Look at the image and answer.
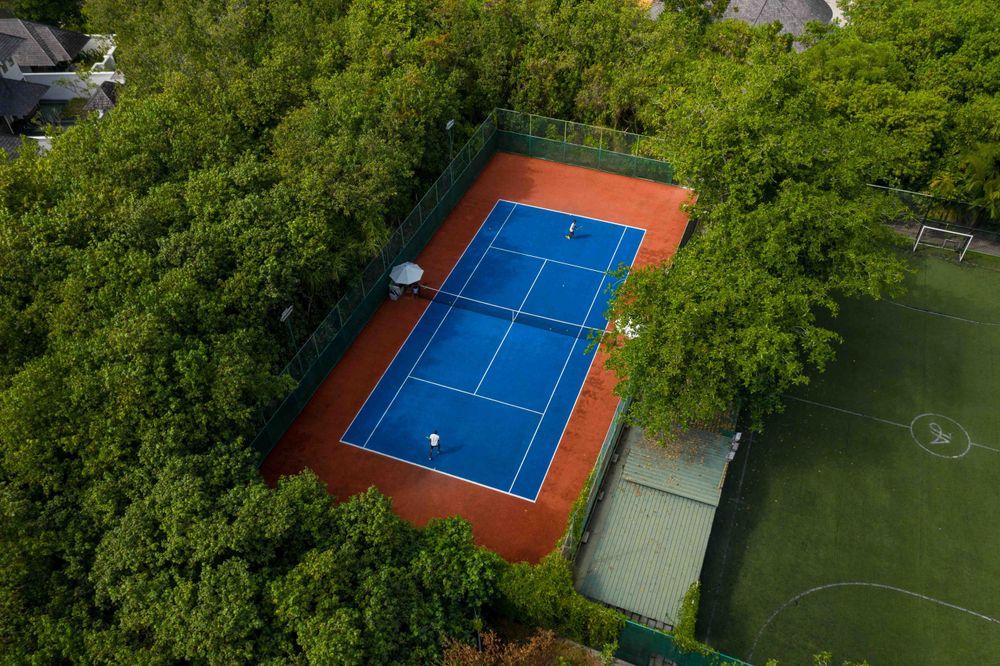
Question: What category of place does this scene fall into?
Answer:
sports ground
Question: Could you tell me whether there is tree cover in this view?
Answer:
Yes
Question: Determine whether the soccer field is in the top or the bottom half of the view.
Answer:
bottom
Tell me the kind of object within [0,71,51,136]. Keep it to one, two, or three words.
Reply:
house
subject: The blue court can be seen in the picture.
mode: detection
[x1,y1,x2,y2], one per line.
[255,152,697,631]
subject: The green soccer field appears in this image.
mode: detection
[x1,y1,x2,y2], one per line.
[696,229,1000,666]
